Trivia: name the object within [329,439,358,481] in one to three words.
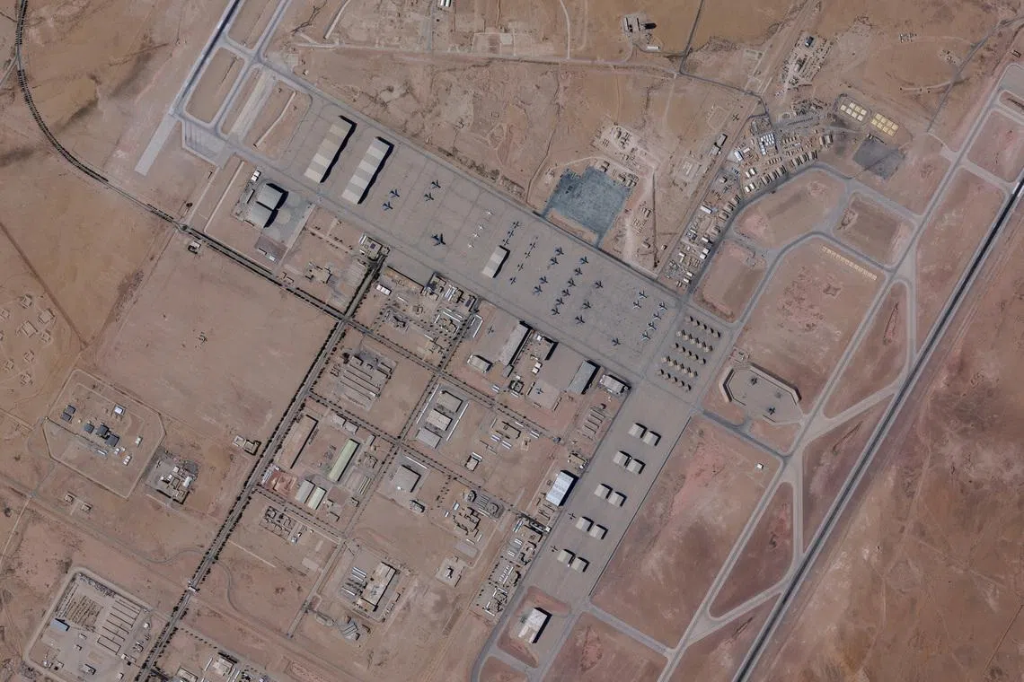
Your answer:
building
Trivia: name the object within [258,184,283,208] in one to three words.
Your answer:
hangar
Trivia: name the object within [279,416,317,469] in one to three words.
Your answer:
building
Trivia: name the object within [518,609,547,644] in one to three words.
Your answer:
hangar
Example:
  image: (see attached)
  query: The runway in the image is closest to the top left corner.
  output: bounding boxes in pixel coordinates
[166,0,241,118]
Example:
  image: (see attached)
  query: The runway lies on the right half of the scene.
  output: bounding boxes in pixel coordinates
[730,167,1024,682]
